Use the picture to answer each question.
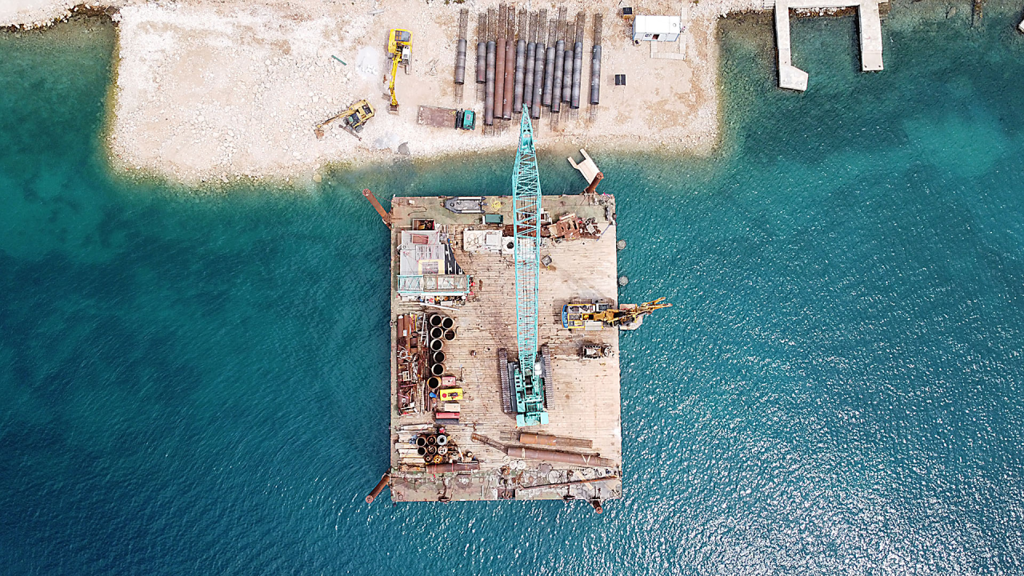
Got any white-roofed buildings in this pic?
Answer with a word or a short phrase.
Yes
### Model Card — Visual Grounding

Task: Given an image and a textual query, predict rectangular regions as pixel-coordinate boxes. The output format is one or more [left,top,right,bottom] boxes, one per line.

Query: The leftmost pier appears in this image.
[568,149,597,185]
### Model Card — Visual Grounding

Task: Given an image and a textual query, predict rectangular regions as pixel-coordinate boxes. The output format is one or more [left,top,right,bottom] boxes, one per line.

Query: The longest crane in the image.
[499,103,555,428]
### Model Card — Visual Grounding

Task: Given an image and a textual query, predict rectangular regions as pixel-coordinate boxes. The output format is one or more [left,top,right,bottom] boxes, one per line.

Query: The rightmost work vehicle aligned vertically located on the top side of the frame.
[387,28,414,106]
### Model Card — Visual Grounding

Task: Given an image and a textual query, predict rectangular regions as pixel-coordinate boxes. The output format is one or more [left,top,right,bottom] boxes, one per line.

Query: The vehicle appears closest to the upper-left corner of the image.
[320,101,375,139]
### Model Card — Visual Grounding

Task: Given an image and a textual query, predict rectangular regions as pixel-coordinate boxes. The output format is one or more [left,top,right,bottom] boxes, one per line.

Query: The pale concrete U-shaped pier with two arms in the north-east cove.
[771,0,884,93]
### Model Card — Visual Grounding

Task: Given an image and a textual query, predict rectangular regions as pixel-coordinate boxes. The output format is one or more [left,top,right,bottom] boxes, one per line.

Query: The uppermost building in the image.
[632,15,681,42]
